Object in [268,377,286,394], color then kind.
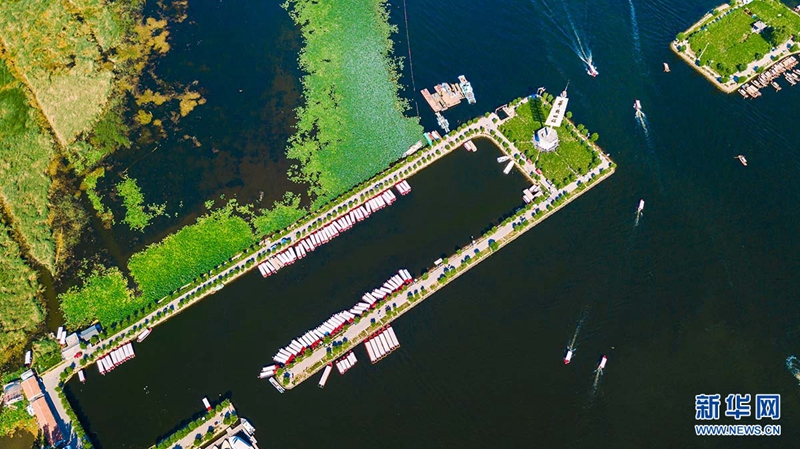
white boat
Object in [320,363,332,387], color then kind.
white boat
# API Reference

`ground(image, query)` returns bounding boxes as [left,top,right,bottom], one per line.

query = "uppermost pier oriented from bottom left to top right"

[277,178,593,390]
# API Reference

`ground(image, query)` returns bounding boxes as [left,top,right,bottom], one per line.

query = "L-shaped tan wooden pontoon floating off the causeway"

[421,88,463,112]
